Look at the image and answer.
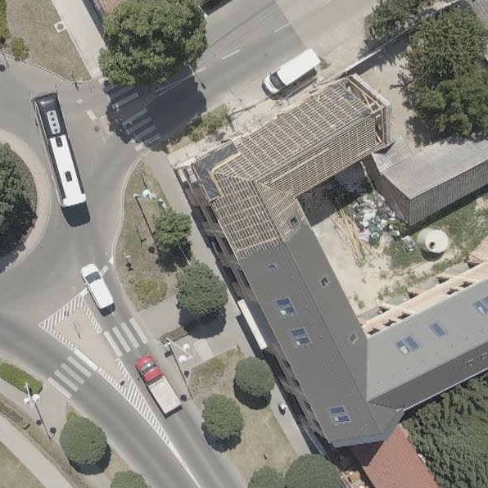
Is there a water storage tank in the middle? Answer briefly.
No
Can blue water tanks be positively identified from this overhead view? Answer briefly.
No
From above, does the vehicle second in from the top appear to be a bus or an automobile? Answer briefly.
bus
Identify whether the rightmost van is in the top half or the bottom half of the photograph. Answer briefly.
top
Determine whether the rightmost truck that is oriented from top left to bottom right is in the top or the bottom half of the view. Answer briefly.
bottom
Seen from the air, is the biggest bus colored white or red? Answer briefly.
white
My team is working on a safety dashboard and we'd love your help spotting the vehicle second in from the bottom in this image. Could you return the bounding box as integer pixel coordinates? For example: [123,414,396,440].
[81,262,117,312]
